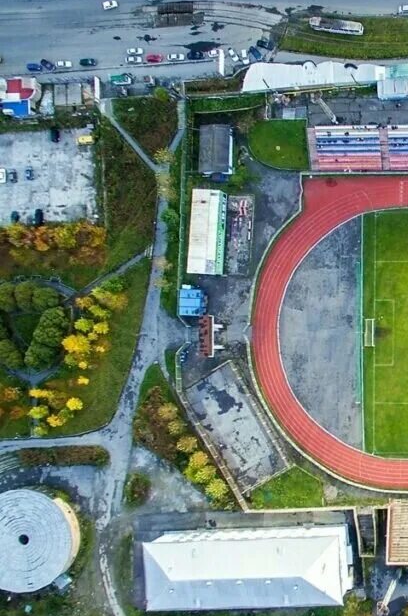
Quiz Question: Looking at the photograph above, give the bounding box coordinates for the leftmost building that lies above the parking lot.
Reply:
[0,78,51,122]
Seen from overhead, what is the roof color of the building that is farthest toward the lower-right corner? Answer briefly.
white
